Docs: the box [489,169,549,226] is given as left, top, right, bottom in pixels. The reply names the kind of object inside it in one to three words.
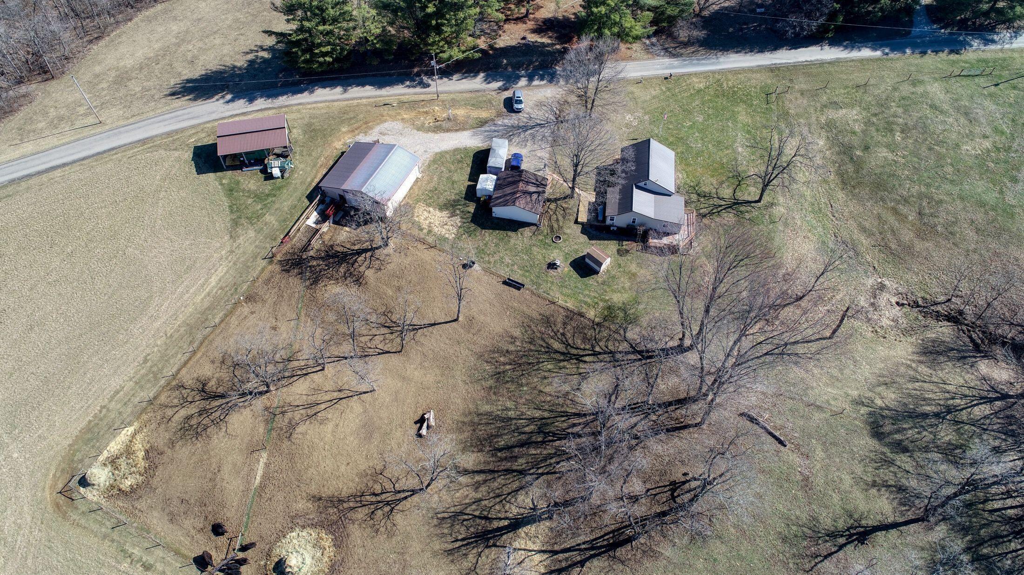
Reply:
building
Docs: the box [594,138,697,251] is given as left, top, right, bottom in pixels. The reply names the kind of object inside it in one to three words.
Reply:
house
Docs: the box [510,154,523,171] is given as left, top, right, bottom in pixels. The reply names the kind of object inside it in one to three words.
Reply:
vehicle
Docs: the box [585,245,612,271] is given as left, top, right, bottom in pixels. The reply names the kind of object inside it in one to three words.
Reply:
shed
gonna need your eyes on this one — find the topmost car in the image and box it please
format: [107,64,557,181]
[512,90,524,109]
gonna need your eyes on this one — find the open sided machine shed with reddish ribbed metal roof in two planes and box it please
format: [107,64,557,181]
[216,113,291,169]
